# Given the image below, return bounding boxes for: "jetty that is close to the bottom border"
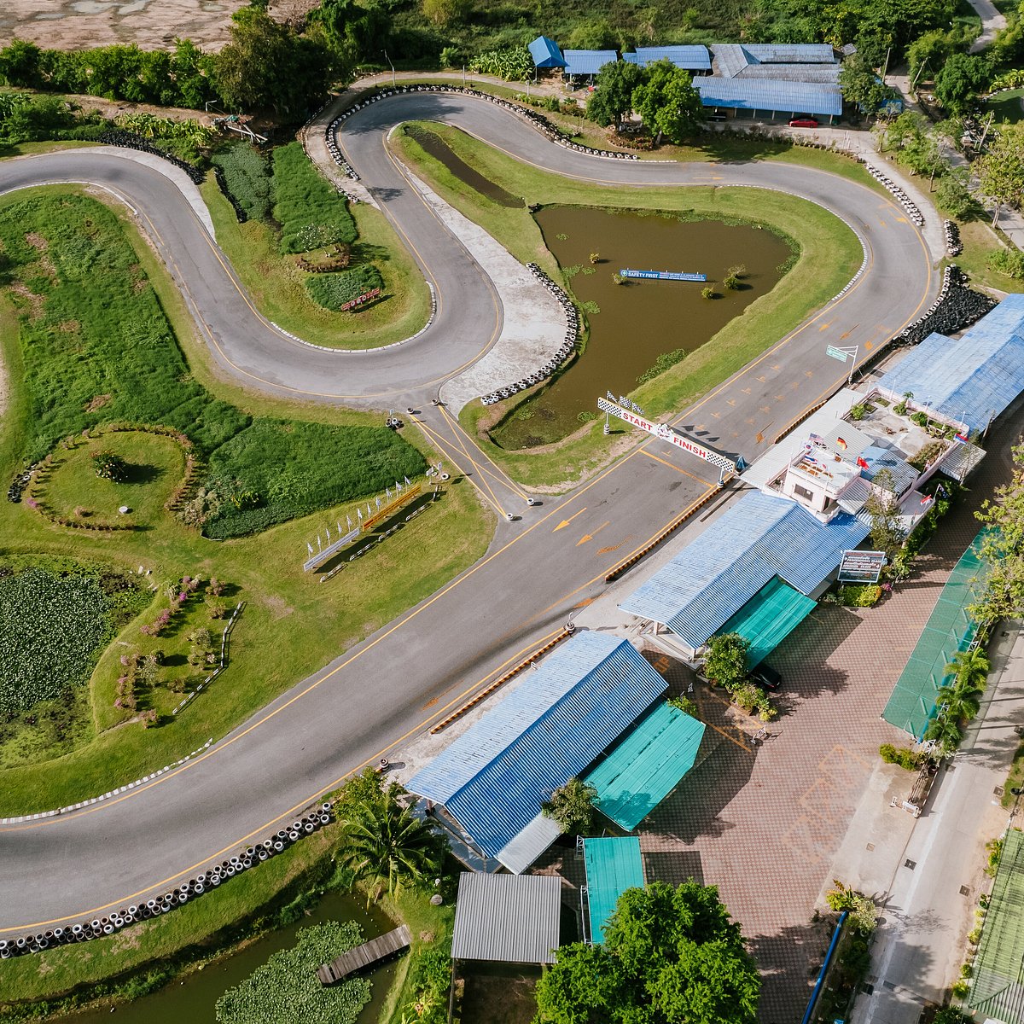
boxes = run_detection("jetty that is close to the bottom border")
[317,926,411,984]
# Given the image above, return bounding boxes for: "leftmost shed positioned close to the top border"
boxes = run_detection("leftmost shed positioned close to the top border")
[526,40,567,88]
